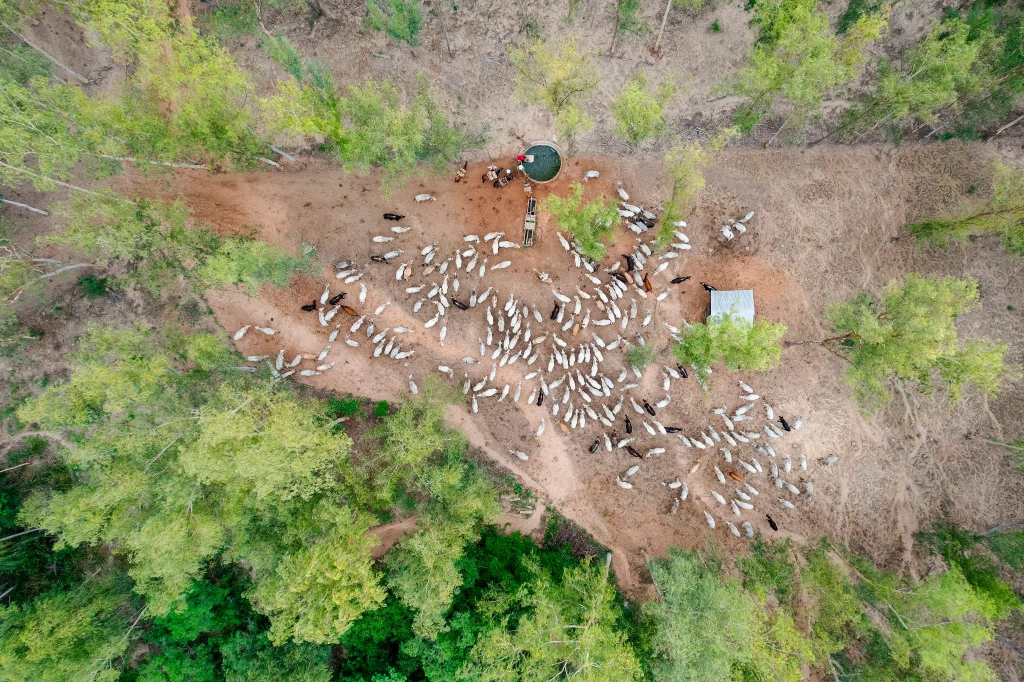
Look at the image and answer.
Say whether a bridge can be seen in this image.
No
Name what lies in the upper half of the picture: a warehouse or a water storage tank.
water storage tank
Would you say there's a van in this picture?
No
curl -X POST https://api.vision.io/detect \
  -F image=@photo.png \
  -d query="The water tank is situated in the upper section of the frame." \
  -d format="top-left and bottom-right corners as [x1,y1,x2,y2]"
[522,140,565,185]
